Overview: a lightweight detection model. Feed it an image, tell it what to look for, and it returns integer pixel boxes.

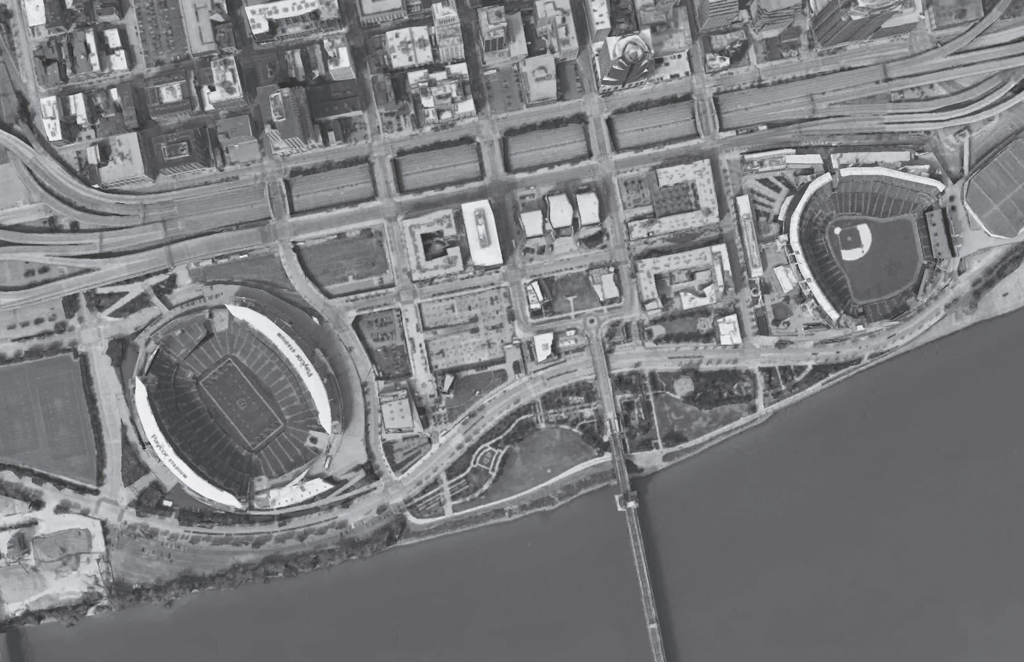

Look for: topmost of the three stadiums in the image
[956,131,1024,240]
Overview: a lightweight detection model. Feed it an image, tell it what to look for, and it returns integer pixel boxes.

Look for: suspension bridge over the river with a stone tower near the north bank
[587,330,666,662]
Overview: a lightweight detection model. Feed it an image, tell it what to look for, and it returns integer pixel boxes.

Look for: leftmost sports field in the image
[0,351,97,488]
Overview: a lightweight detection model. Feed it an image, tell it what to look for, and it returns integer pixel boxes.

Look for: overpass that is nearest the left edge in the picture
[261,178,292,222]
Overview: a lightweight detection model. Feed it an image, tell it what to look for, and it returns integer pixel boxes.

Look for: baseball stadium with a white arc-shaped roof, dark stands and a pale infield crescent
[782,167,956,320]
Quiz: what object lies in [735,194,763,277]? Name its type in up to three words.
building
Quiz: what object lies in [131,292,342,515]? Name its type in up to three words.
stadium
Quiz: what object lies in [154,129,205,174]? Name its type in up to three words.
building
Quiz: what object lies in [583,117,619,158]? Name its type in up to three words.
overpass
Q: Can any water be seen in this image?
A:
Yes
